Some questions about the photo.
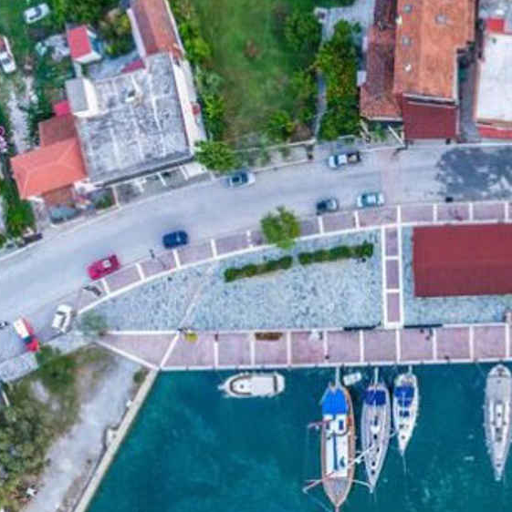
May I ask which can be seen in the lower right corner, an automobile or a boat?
boat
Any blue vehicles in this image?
Yes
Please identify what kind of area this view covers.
residential area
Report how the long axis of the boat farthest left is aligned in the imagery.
from side to side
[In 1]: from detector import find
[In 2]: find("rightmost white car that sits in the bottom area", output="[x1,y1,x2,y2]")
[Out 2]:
[49,304,76,331]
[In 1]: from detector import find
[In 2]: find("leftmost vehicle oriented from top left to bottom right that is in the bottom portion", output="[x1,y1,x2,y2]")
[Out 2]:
[11,314,42,353]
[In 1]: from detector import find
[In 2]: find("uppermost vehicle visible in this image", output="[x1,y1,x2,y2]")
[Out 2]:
[21,1,53,25]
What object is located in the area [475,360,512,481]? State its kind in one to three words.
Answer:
boat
